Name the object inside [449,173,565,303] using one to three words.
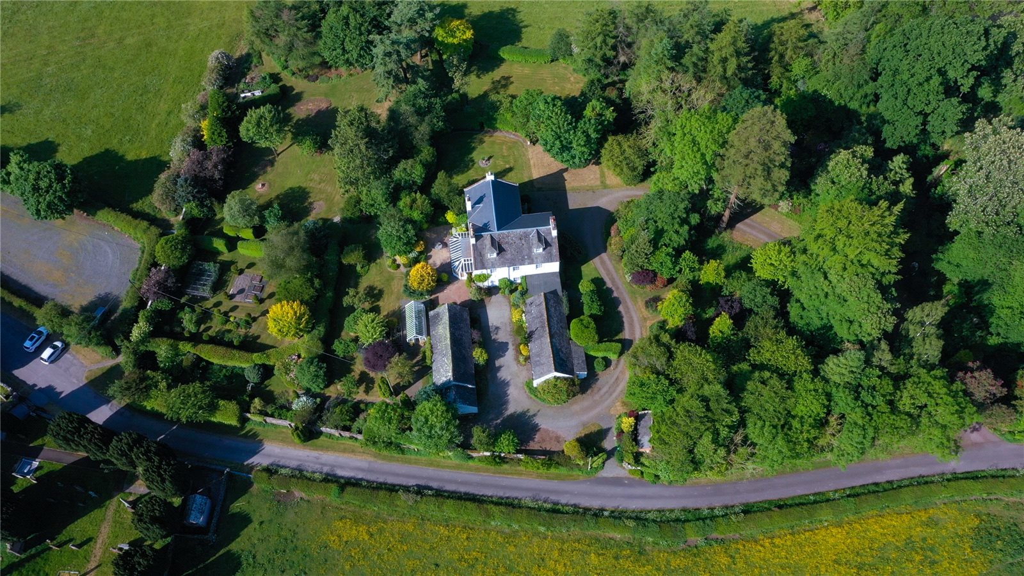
house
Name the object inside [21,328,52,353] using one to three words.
car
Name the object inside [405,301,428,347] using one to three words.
greenhouse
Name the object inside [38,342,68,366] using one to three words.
car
